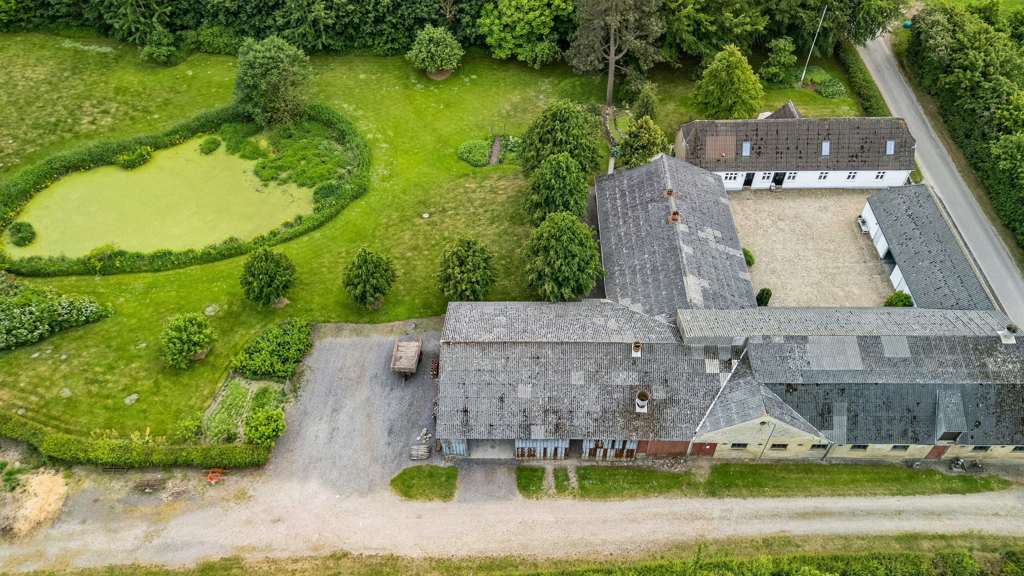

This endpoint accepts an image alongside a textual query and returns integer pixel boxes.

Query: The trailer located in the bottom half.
[391,337,423,386]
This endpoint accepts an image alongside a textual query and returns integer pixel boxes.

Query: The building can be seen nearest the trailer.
[436,299,735,460]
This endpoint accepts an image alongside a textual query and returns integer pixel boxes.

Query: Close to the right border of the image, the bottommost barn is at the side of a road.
[677,305,1024,460]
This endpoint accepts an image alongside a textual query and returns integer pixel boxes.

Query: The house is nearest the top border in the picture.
[675,97,918,194]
